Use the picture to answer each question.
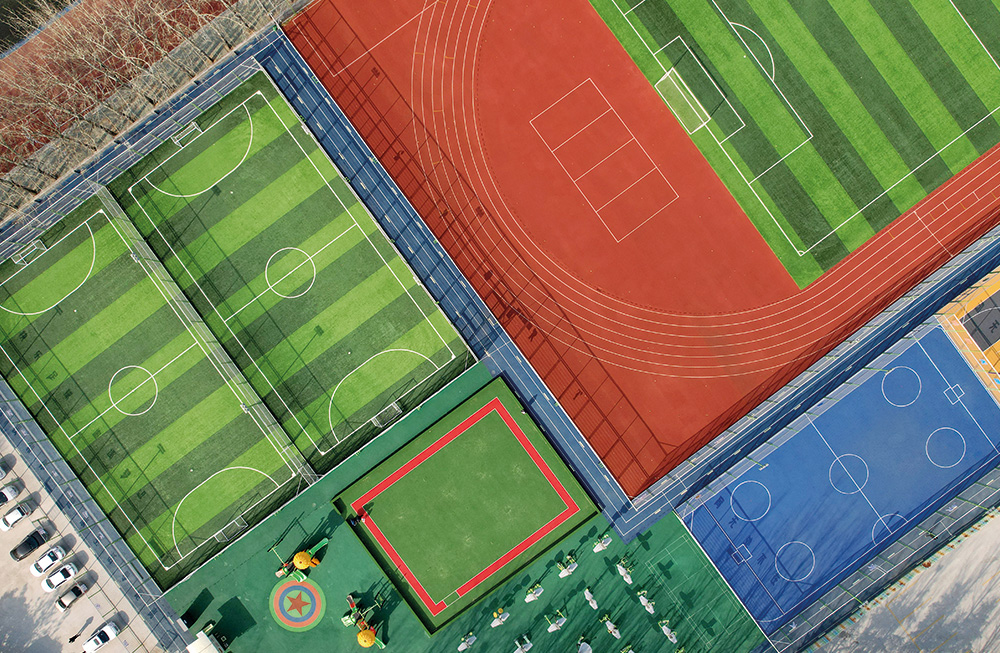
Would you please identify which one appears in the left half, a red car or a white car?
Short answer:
white car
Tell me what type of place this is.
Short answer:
sports ground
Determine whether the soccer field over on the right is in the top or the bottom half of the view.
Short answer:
top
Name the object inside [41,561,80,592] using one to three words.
car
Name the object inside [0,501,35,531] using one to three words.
car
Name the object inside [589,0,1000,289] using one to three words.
soccer field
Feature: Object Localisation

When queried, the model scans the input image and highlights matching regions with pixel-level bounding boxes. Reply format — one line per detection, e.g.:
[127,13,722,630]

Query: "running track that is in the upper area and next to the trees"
[277,0,1000,498]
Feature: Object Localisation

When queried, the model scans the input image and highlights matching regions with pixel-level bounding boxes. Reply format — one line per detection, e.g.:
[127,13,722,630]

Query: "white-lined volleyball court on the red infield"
[529,78,680,242]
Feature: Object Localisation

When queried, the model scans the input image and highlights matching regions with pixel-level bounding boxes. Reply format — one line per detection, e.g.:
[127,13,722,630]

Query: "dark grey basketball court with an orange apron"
[936,266,1000,403]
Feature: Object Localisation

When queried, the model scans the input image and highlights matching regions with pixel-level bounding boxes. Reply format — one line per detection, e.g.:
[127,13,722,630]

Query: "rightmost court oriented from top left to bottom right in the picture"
[646,535,751,649]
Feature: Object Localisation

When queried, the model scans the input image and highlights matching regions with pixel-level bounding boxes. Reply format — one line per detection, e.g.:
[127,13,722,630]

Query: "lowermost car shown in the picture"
[82,619,123,653]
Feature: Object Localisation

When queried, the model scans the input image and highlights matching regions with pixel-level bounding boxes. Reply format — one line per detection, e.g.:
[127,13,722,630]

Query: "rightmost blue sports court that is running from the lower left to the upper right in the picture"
[682,317,1000,634]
